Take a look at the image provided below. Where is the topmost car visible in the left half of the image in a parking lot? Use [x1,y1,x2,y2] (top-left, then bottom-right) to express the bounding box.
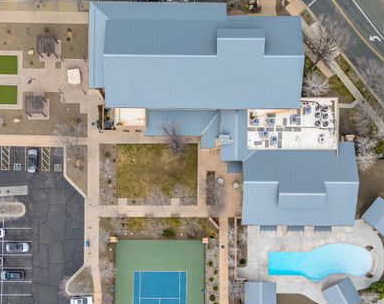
[26,149,38,173]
